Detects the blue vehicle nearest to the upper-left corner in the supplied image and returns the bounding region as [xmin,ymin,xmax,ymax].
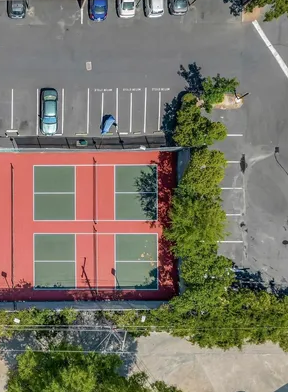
[88,0,106,20]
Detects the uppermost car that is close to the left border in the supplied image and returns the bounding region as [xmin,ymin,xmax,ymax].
[9,0,25,18]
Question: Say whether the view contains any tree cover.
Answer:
Yes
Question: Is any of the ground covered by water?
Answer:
No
